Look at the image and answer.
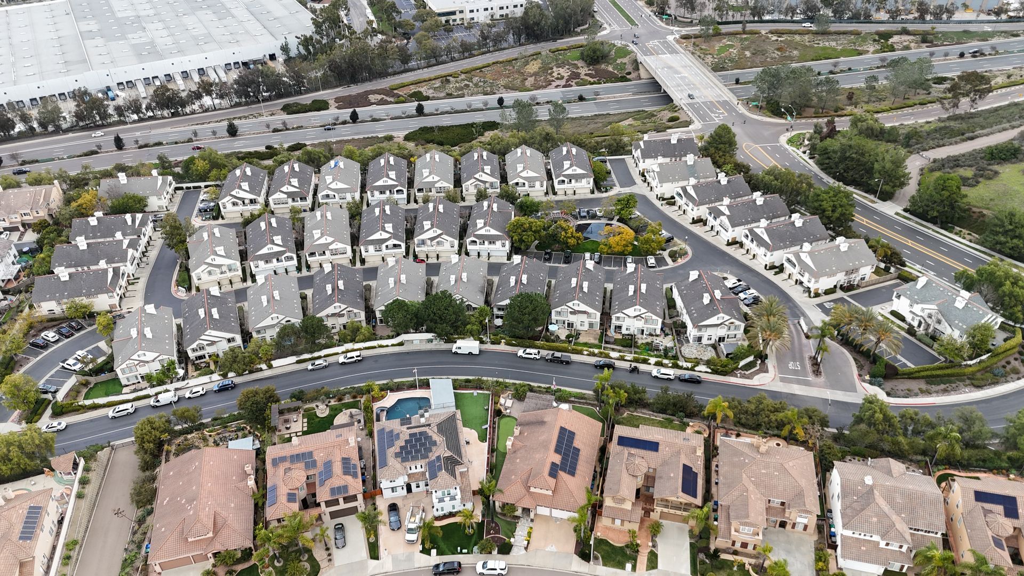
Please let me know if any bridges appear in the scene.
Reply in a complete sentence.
Yes, a bridge appears in the view.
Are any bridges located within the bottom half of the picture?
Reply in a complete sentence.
No, there is no bridge within the bottom half of the picture.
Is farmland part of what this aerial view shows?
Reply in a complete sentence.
No, farmland can't be seen anywhere here.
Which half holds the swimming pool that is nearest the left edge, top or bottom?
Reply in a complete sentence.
The swimming pool that is nearest the left edge is in the bottom half of the image.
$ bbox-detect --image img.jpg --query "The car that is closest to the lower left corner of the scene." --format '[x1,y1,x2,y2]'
[39,419,67,434]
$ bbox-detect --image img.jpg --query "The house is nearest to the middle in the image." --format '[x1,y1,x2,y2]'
[492,252,545,326]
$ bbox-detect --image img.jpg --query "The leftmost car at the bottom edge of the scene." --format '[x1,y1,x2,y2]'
[332,522,346,549]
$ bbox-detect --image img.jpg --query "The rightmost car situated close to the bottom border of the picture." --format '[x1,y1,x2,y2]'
[476,559,507,575]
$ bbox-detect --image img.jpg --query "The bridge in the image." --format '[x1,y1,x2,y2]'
[631,39,744,122]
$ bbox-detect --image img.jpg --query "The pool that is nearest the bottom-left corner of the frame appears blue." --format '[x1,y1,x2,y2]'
[384,396,433,419]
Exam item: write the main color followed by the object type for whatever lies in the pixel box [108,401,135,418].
white car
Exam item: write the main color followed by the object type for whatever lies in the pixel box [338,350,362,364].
white car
